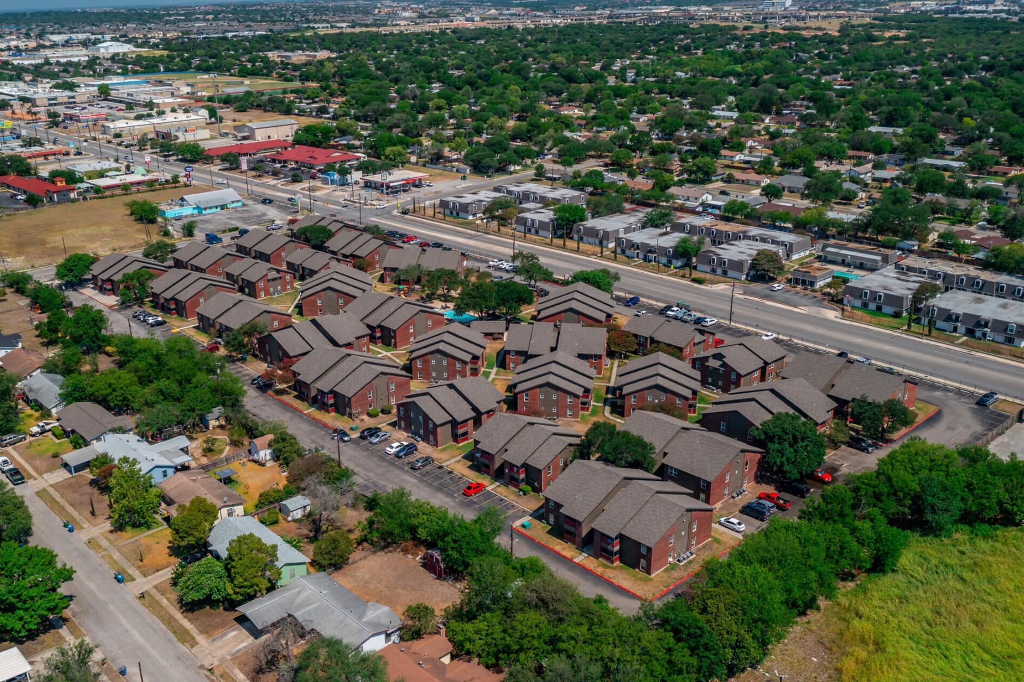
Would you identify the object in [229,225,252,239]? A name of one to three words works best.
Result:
vehicle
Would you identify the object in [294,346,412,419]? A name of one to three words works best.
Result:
building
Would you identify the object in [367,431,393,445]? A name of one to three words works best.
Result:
car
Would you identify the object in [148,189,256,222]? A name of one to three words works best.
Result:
building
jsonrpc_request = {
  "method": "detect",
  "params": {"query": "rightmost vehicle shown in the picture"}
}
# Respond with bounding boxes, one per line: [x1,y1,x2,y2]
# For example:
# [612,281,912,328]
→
[976,392,999,407]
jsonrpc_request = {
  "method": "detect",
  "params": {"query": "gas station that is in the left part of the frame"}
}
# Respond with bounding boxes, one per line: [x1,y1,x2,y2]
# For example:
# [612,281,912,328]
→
[352,167,441,194]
